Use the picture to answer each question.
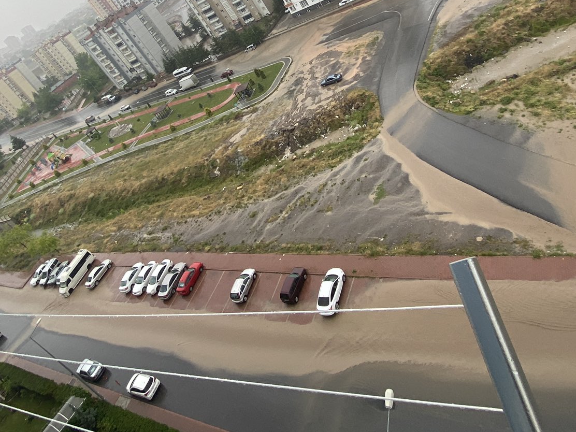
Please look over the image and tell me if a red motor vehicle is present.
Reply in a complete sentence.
Yes, there's a red motor vehicle here.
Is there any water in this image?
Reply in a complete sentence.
Yes, the picture does contain water.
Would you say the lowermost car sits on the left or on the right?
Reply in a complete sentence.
The lowermost car sits on the left side.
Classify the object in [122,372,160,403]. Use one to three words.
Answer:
car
